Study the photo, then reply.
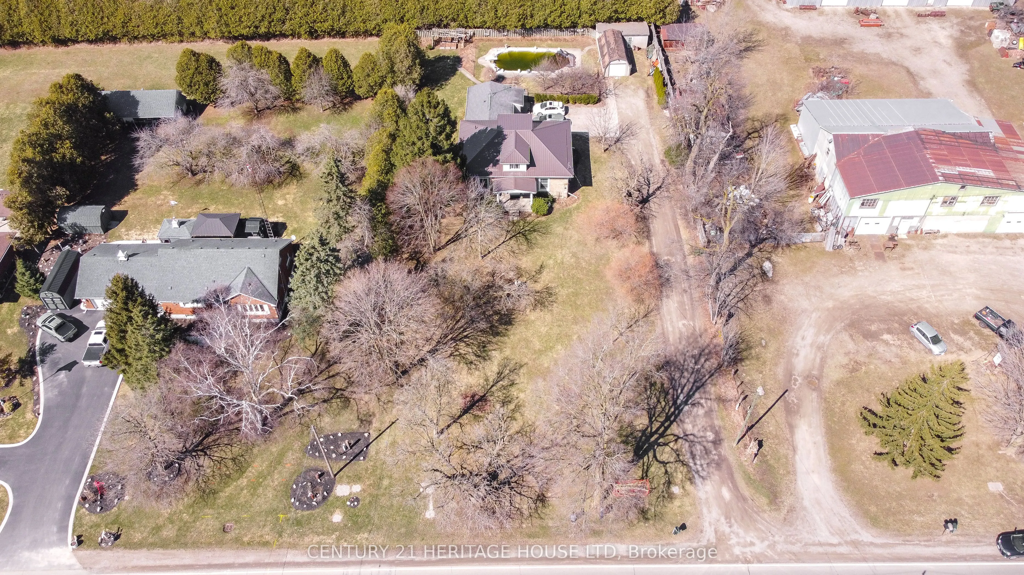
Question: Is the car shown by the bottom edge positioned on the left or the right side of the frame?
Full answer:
You can find the car shown by the bottom edge on the right side of the picture.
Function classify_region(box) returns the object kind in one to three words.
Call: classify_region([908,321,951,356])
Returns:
car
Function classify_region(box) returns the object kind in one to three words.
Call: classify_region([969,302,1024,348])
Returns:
truck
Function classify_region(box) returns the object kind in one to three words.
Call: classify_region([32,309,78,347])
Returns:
truck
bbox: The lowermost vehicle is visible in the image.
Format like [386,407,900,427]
[993,531,1024,560]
